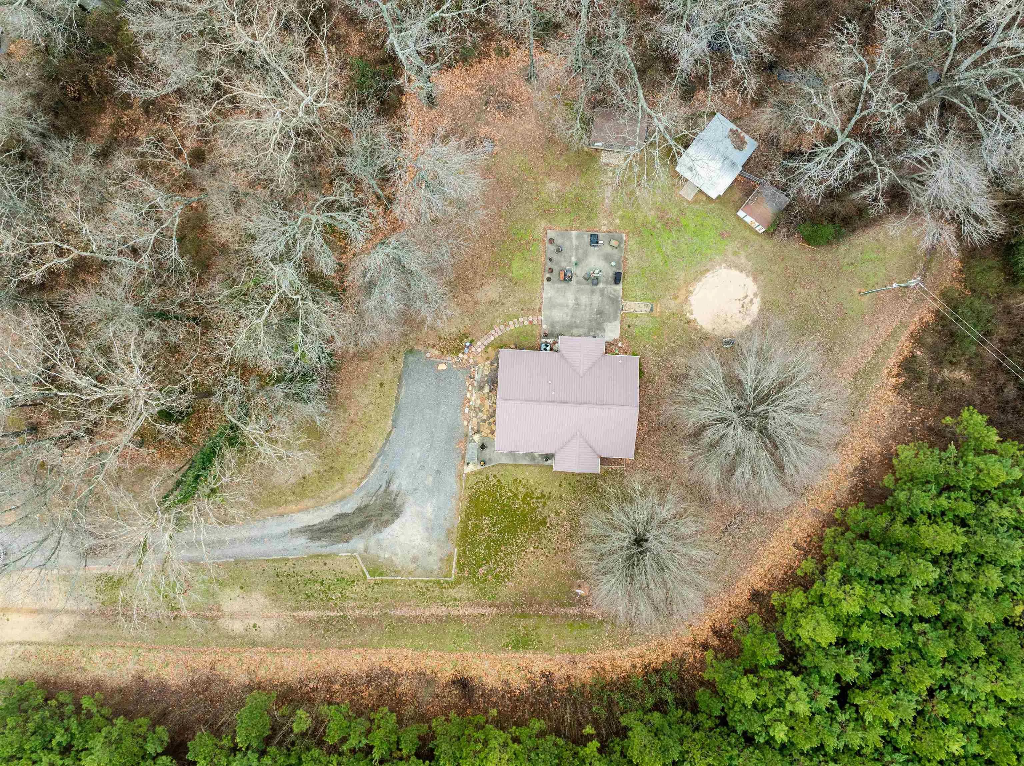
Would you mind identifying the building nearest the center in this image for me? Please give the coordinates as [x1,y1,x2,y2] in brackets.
[494,336,640,474]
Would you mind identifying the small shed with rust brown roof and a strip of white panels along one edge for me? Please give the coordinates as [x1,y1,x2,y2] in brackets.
[735,182,789,232]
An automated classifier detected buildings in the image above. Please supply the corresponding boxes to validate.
[586,108,647,156]
[675,112,758,200]
[735,182,789,232]
[494,336,640,474]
